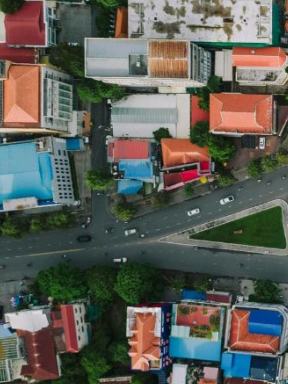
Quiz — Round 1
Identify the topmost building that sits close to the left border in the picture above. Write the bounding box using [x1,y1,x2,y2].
[5,0,65,51]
